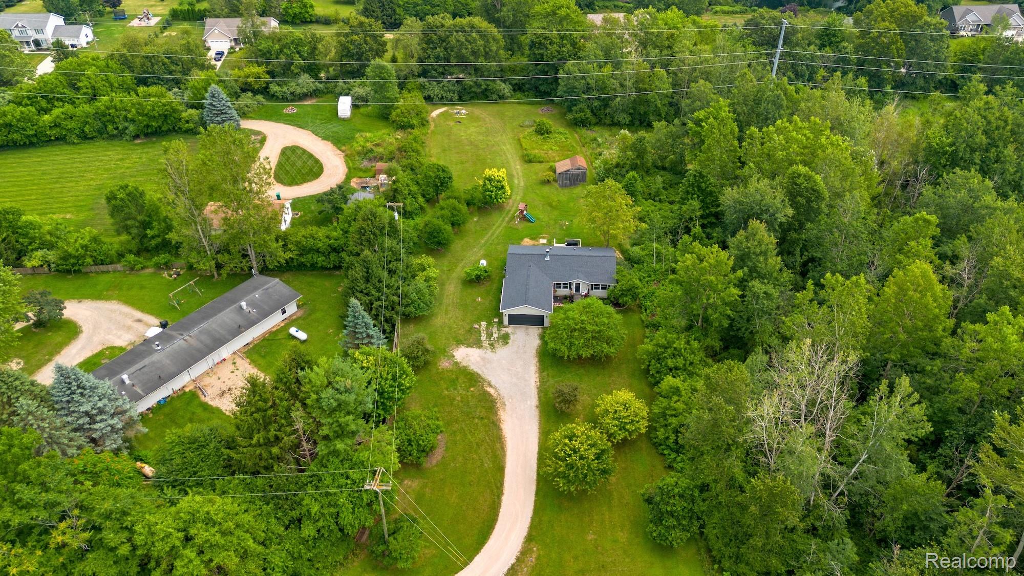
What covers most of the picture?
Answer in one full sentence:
What you mostly see from above here is trees.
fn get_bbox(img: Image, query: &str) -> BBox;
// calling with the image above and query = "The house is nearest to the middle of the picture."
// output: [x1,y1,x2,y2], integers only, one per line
[500,238,616,328]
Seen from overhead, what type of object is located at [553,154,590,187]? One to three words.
barn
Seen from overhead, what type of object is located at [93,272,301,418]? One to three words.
house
